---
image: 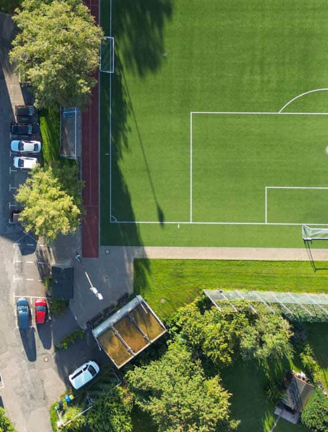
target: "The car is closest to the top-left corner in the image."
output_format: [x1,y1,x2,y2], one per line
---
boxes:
[12,105,41,119]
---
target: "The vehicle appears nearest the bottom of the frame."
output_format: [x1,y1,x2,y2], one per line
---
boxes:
[69,360,99,390]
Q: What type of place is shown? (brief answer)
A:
sports ground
